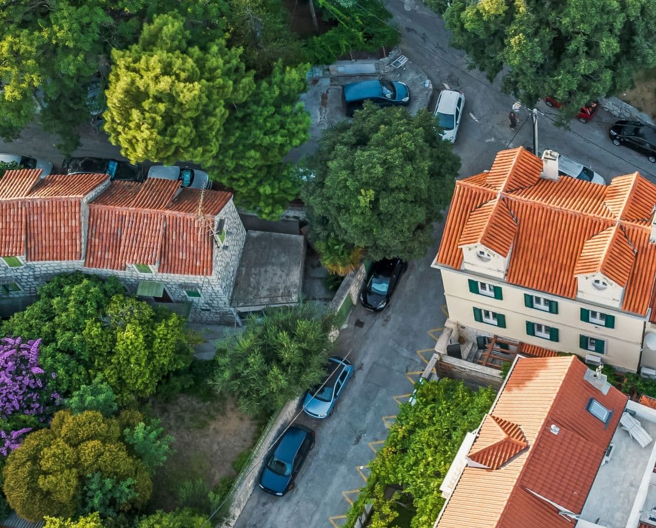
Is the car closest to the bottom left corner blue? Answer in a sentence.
Yes, the car closest to the bottom left corner is indeed blue.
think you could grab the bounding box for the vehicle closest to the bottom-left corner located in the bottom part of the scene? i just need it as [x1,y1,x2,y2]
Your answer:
[264,415,319,498]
